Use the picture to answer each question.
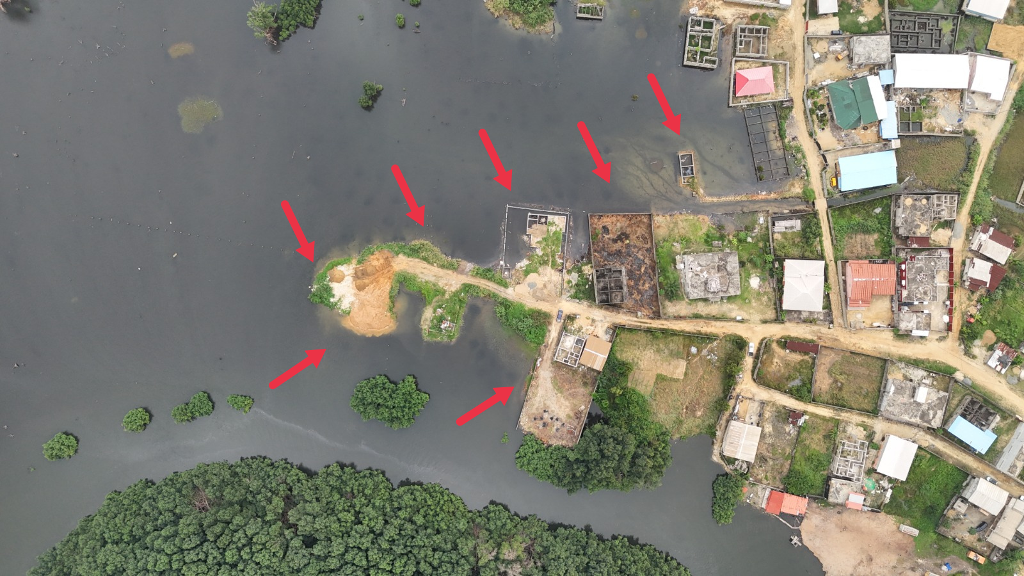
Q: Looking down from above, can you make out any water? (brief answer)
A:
Yes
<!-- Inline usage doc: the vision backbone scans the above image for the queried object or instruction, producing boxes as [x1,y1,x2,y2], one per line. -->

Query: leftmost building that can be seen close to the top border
[576,4,603,19]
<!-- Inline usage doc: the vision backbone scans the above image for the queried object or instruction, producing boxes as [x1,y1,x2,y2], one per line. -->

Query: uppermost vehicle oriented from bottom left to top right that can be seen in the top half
[834,47,850,61]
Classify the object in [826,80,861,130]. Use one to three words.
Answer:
building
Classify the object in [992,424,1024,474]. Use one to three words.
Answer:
shed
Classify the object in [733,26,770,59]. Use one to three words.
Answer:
house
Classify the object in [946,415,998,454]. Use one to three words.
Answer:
house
